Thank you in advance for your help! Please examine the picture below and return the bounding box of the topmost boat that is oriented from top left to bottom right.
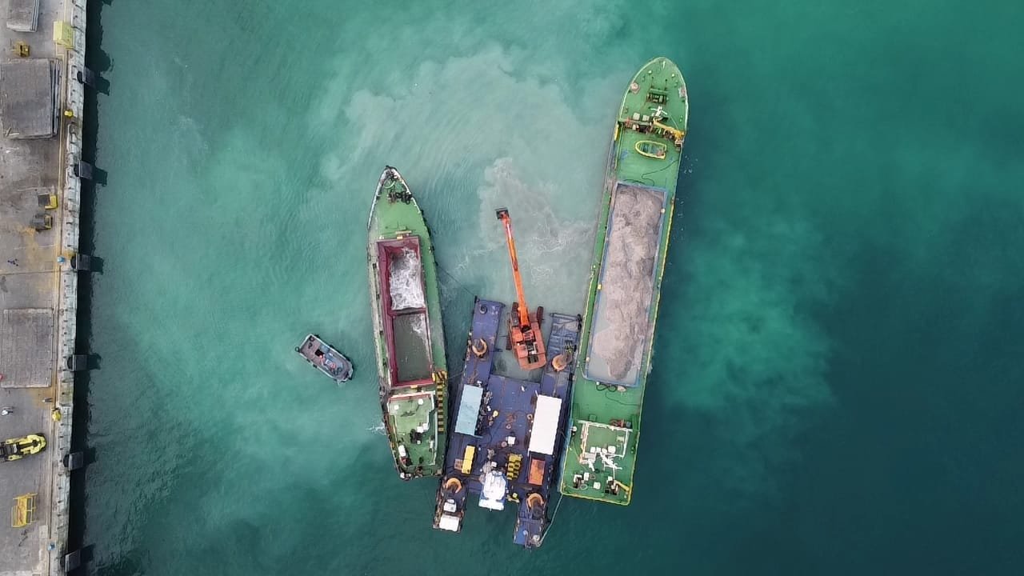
[295,332,356,385]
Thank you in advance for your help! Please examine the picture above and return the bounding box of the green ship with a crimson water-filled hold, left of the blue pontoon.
[367,163,451,480]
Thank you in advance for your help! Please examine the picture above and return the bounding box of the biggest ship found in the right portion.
[559,57,689,506]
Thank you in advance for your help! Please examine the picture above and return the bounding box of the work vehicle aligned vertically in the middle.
[494,205,547,370]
